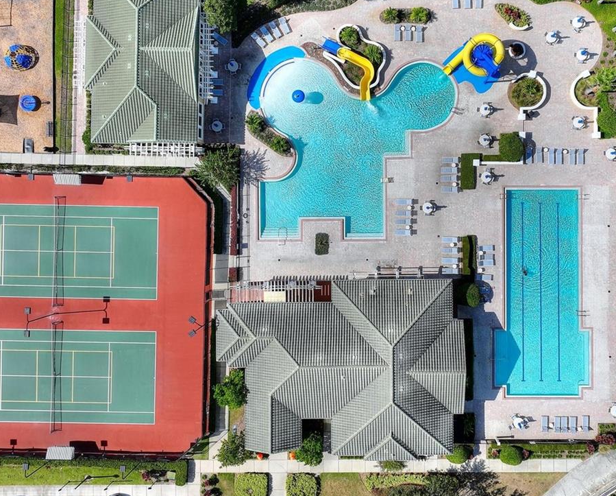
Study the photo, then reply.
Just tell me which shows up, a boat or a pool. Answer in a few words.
pool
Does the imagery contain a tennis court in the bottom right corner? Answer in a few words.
No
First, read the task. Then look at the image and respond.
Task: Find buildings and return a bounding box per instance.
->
[84,0,205,144]
[215,279,467,461]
